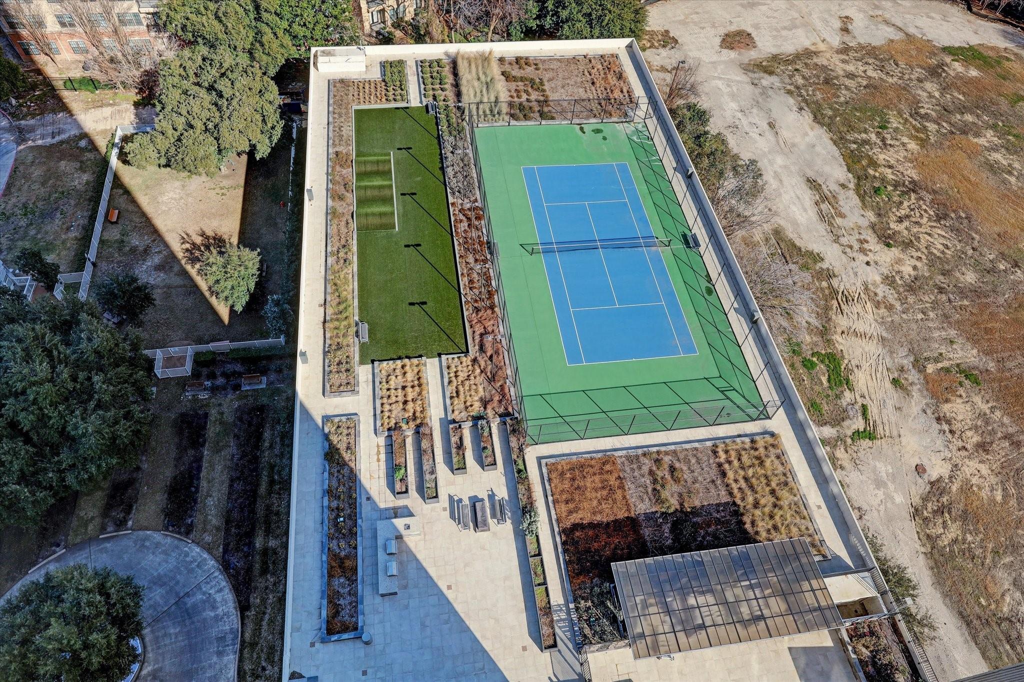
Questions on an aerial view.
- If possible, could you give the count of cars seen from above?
zero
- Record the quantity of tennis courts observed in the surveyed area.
1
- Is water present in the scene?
No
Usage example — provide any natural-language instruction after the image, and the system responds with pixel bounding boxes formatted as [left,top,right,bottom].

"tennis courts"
[480,120,771,445]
